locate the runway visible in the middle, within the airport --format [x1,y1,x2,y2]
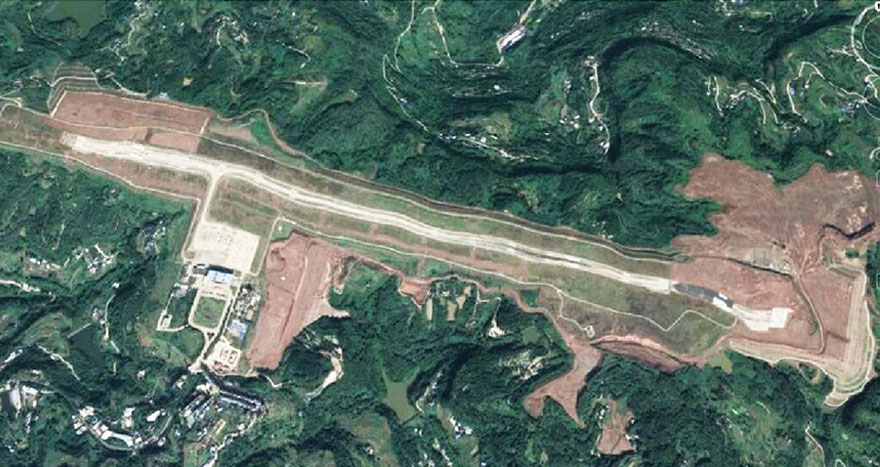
[59,134,790,331]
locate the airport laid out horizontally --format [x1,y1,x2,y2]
[0,101,790,378]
